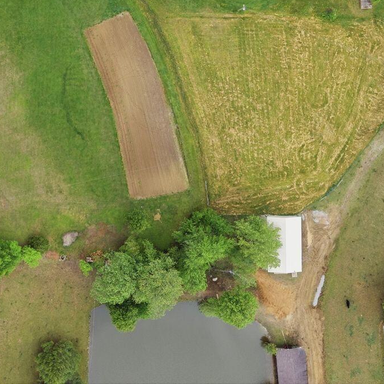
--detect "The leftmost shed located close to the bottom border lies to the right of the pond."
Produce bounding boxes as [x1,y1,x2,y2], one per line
[274,344,307,384]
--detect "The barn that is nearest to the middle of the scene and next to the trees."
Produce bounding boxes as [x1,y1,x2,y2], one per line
[265,214,302,275]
